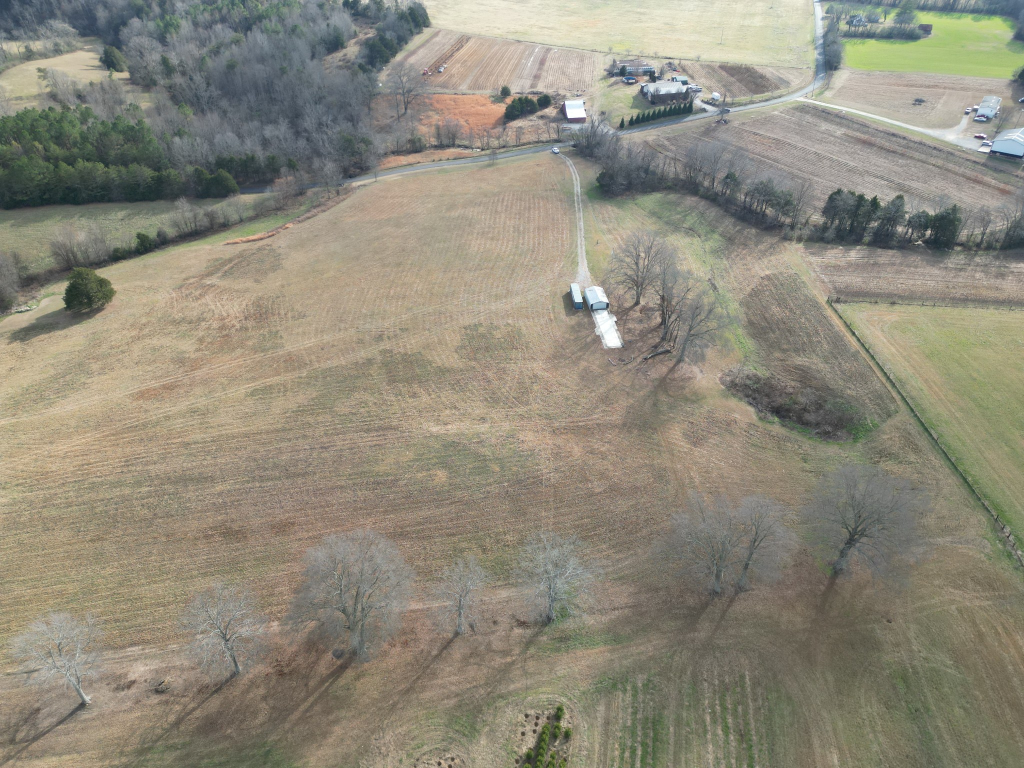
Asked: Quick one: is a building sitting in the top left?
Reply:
No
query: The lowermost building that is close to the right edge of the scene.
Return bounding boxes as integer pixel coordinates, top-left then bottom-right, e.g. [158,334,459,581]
[989,127,1024,162]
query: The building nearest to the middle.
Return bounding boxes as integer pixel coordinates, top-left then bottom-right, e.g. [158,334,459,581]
[584,285,610,310]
